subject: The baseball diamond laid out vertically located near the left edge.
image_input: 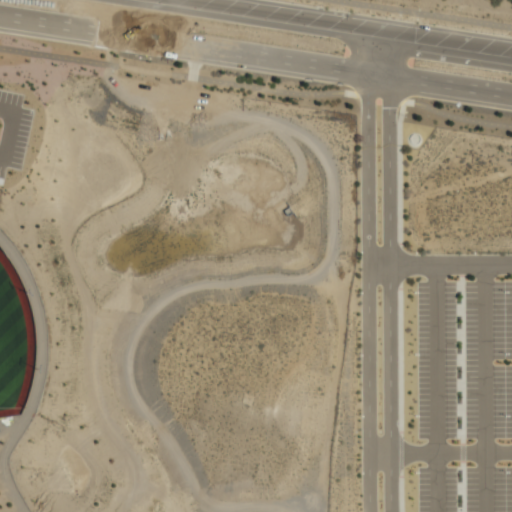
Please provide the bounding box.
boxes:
[0,247,36,417]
